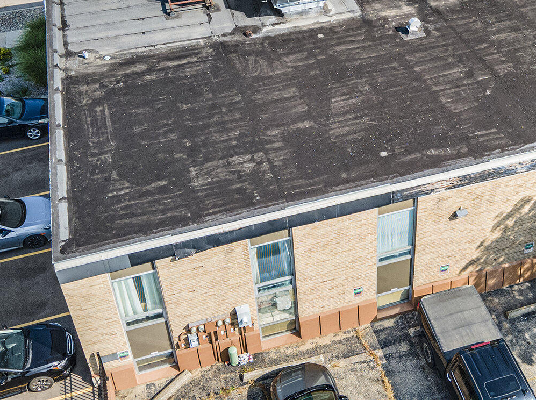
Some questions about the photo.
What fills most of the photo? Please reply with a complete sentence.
Most of the picture is covered by buildings.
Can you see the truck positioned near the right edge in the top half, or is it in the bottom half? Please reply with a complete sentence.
The bottom half of the photo is where the truck positioned near the right edge is.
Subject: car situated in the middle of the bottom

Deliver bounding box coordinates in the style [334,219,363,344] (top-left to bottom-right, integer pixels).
[280,361,354,400]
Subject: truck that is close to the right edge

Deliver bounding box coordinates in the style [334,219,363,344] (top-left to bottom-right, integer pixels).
[416,286,536,400]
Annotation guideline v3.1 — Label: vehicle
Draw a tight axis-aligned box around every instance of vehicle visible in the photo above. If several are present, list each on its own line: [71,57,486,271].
[0,92,49,140]
[0,313,77,395]
[416,286,536,400]
[0,190,51,250]
[280,361,354,400]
